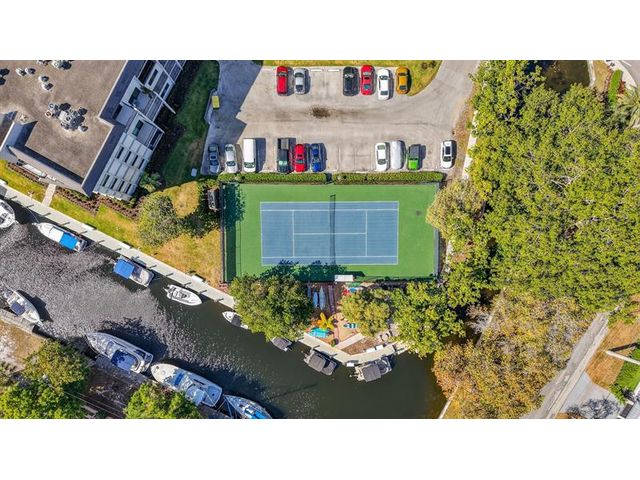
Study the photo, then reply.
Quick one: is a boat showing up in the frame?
Yes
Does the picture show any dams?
No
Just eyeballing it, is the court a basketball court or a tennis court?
tennis court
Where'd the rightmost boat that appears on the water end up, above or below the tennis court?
below it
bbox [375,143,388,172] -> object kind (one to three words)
vehicle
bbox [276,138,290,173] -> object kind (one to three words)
vehicle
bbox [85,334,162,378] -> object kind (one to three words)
boat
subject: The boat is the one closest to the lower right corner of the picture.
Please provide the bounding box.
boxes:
[352,356,392,380]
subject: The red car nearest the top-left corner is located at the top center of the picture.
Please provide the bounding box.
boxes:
[276,66,289,95]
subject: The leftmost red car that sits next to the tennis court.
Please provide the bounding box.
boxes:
[294,144,307,173]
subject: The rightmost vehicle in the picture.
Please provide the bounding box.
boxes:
[440,141,454,169]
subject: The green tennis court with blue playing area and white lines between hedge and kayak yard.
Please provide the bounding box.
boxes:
[224,184,434,283]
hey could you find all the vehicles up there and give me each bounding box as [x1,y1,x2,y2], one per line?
[242,138,256,173]
[406,142,420,171]
[276,138,290,173]
[276,66,289,95]
[396,68,409,94]
[293,69,306,96]
[377,69,390,100]
[361,66,374,94]
[294,144,307,173]
[342,67,356,96]
[225,144,238,173]
[310,143,322,172]
[375,143,388,172]
[440,141,454,169]
[207,144,221,173]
